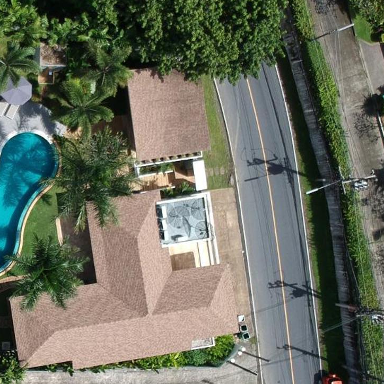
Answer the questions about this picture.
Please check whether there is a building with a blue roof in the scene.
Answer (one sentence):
No, no building with a blue roof is visible in the scene.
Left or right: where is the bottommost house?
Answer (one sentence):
The bottommost house sits on the left side.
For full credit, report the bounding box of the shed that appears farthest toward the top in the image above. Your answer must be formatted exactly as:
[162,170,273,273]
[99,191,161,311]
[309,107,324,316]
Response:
[37,46,66,85]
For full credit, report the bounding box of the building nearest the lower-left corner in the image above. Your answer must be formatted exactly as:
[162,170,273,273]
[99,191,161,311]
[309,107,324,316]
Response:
[8,189,239,370]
